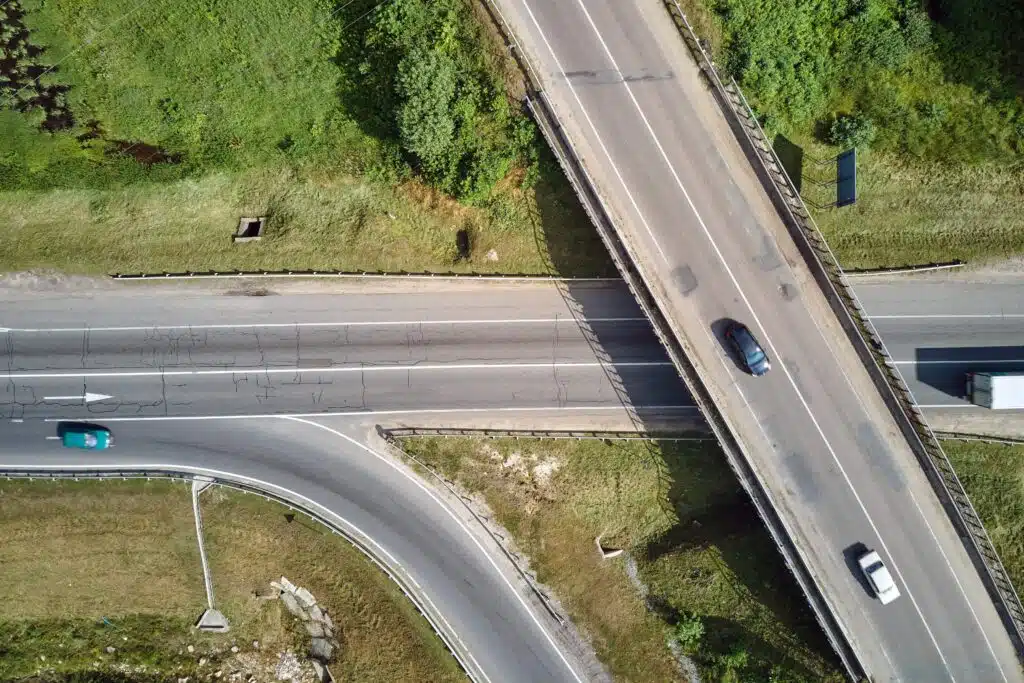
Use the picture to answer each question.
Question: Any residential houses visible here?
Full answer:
No, there's no residential house here.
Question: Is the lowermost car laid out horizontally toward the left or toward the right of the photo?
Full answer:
The lowermost car laid out horizontally appears in the left half of the scene.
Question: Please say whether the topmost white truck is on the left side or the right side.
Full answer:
It is on the right.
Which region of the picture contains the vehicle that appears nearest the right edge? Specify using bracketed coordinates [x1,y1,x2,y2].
[960,372,1024,409]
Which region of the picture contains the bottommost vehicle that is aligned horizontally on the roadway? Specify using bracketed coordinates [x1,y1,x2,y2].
[64,429,116,451]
